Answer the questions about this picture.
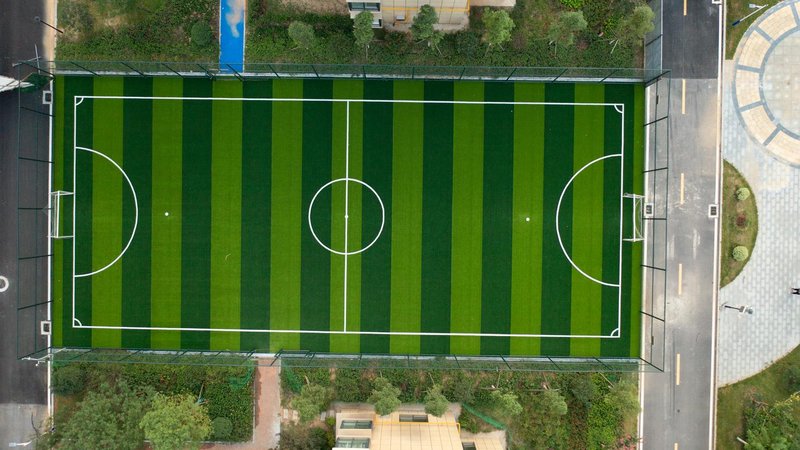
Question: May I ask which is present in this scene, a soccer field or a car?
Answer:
soccer field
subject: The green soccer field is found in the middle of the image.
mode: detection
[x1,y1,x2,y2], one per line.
[52,77,646,357]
